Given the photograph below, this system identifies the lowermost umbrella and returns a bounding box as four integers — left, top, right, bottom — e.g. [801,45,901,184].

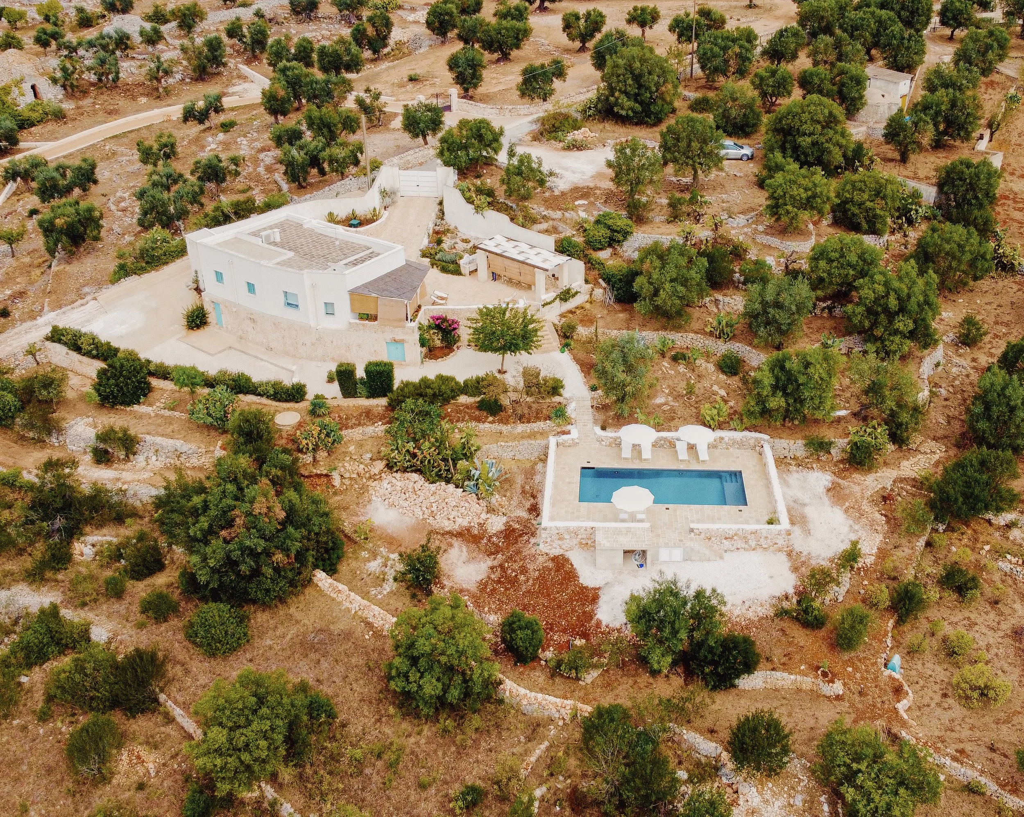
[611,477,658,523]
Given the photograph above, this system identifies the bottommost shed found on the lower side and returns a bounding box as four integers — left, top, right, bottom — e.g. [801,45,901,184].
[595,539,652,569]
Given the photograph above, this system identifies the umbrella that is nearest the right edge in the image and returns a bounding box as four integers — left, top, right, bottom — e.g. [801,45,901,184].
[677,424,716,464]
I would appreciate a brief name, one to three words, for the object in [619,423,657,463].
umbrella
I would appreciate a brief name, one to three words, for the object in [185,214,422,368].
house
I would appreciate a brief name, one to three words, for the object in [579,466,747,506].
swimming pool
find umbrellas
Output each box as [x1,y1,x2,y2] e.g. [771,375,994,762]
[619,423,657,463]
[677,424,716,464]
[611,477,658,523]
